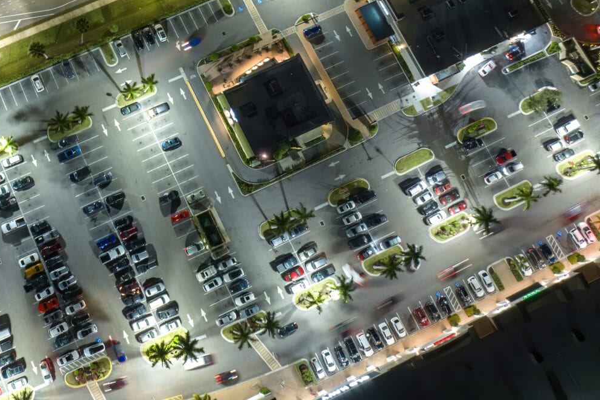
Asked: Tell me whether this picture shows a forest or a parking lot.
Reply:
parking lot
